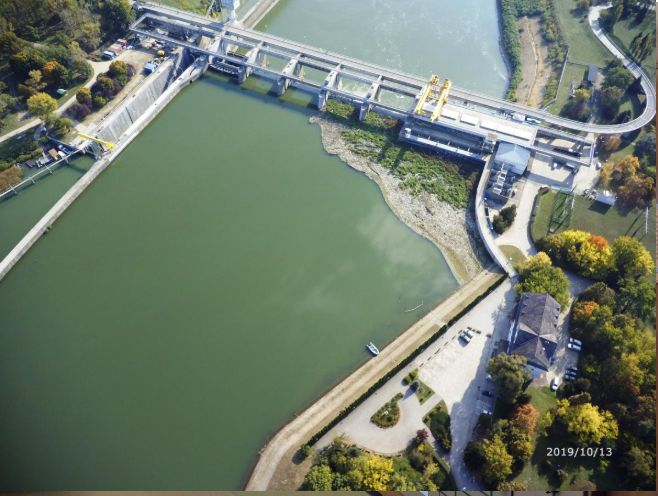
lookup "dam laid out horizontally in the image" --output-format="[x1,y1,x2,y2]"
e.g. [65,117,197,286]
[188,30,420,122]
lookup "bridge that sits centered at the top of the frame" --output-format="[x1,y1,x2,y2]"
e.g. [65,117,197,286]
[136,0,658,139]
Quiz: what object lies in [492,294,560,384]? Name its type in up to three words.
house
